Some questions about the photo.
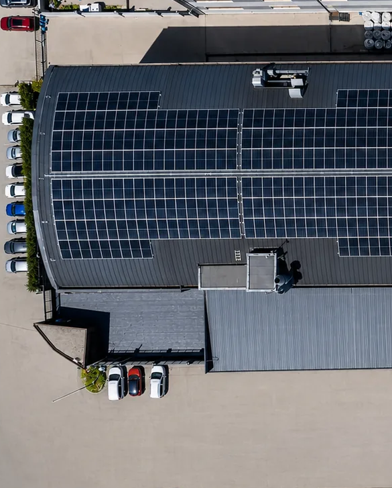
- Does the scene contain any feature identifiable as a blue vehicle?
Yes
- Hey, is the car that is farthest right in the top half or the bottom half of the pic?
bottom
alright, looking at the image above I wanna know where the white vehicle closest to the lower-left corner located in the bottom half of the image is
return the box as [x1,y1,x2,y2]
[107,365,127,400]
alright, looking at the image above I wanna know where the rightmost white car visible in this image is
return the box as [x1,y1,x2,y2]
[149,364,169,398]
